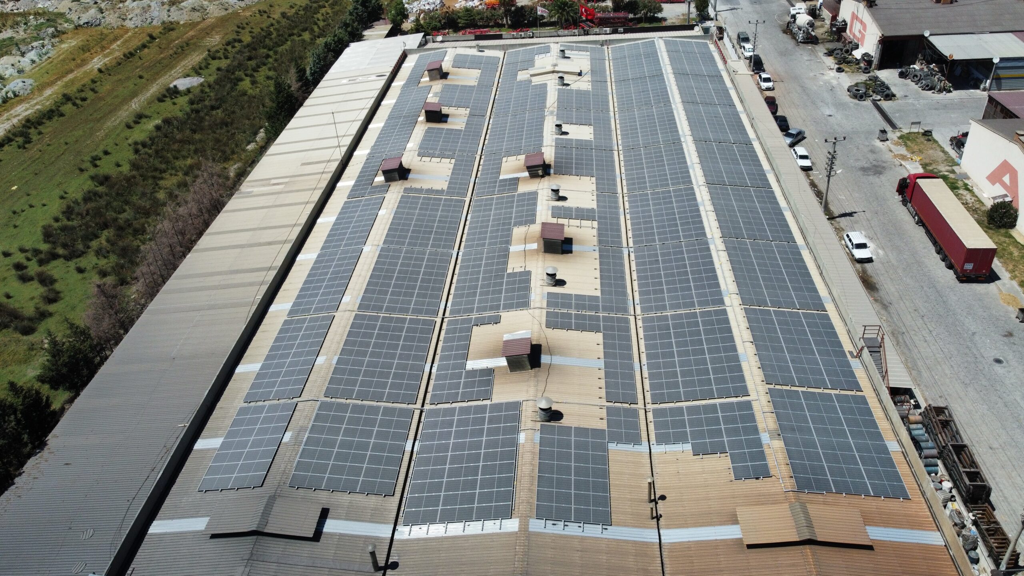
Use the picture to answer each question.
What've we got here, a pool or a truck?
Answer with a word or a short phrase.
truck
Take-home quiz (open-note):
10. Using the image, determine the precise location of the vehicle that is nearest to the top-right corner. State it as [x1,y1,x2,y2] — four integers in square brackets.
[942,130,969,147]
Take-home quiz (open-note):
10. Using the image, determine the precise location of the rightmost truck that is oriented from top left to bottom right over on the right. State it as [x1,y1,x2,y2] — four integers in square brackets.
[894,173,997,281]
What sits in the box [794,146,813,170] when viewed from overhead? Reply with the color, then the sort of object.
white car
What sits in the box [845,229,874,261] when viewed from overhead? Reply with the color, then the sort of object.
white car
